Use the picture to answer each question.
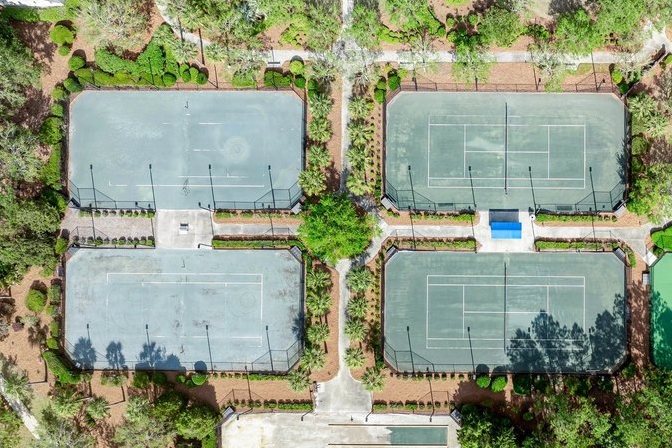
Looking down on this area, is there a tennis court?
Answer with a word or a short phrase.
Yes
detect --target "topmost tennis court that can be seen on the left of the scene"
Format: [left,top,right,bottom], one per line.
[68,91,302,210]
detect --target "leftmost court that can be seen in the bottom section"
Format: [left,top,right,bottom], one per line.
[64,249,302,372]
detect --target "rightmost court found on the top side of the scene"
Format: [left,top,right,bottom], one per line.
[385,92,627,212]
